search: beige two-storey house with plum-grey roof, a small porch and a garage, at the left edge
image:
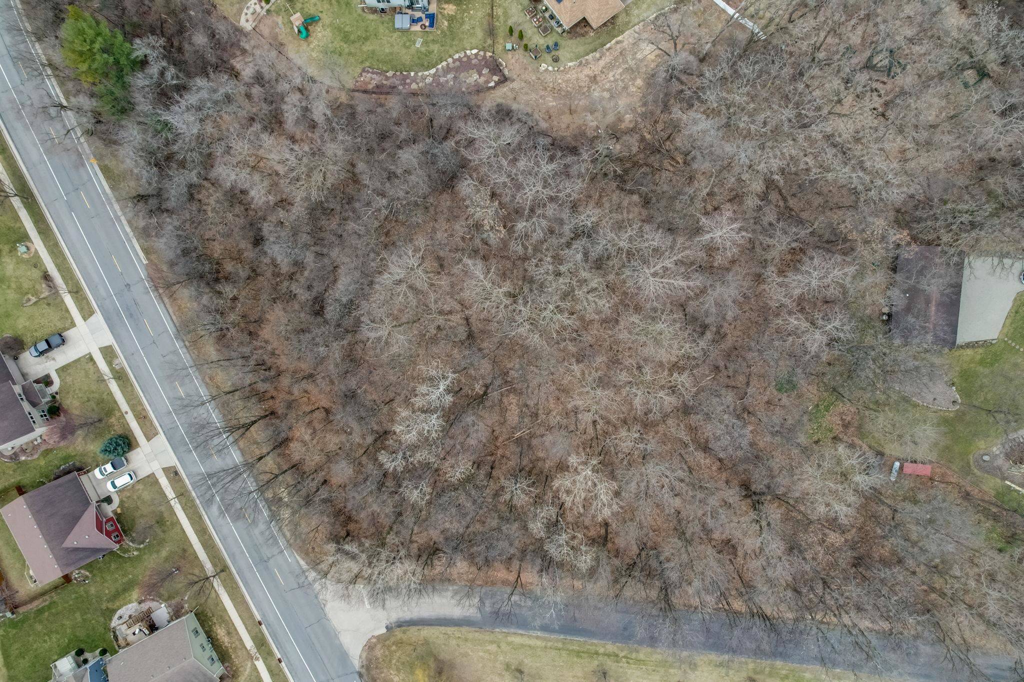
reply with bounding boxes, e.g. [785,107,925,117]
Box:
[0,347,65,453]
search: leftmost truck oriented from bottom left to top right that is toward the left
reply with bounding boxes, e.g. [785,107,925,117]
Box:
[27,330,69,360]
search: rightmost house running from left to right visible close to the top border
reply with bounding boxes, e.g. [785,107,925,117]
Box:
[539,0,625,35]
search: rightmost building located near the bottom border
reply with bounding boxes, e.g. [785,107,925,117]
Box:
[96,607,227,682]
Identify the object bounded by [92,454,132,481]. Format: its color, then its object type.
white truck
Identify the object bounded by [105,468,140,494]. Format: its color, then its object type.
white car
